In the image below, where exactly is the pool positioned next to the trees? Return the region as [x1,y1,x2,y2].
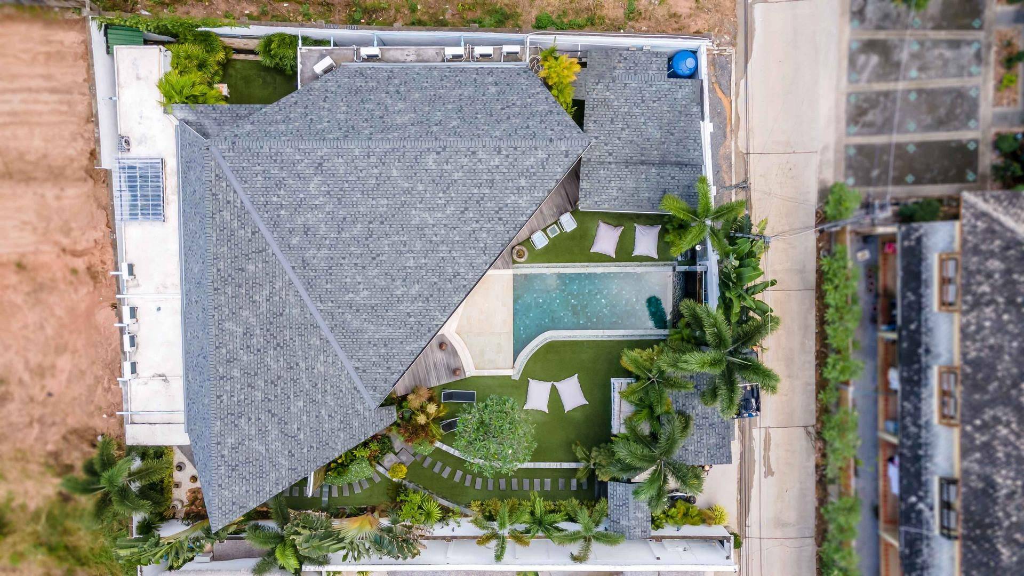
[512,261,676,381]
